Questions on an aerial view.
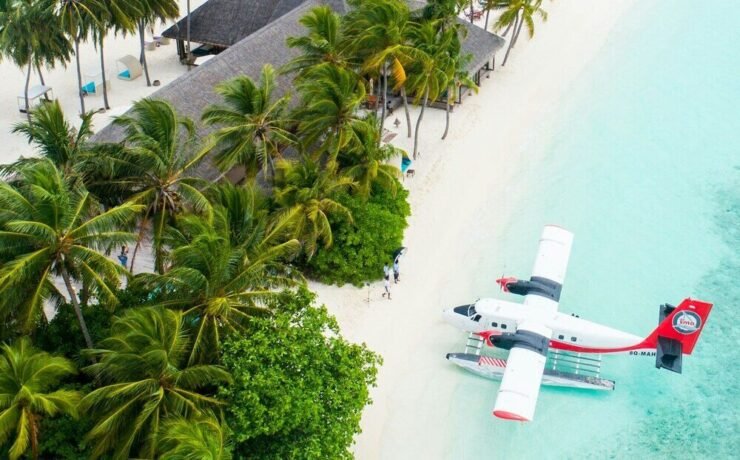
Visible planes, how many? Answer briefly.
1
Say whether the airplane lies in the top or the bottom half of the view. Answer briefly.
bottom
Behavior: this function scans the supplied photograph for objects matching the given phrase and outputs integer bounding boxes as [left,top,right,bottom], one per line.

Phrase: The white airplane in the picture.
[442,227,712,420]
